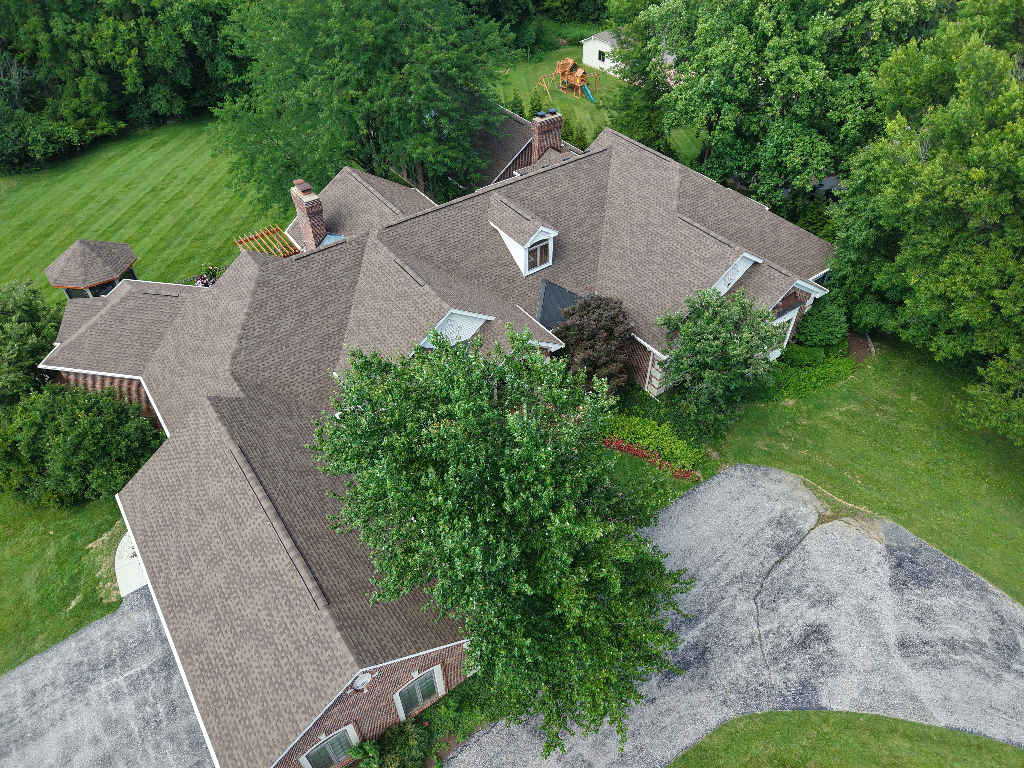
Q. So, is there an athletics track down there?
No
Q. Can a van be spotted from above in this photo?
No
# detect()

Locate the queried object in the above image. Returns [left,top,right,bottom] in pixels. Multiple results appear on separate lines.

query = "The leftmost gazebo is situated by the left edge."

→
[46,239,141,301]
